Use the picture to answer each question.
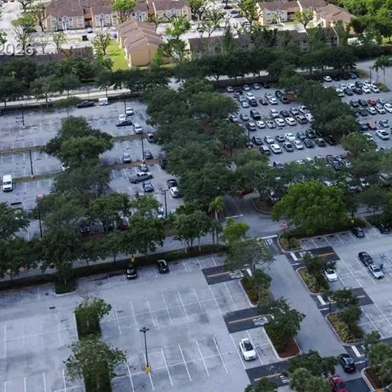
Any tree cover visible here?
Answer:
Yes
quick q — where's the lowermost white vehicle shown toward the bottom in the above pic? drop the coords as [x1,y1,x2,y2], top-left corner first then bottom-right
[239,337,257,361]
